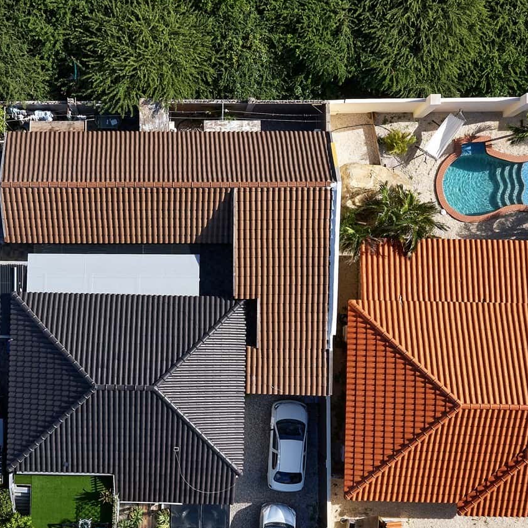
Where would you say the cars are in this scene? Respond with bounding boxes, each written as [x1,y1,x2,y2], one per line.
[266,398,312,494]
[257,499,297,528]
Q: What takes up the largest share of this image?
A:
buildings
